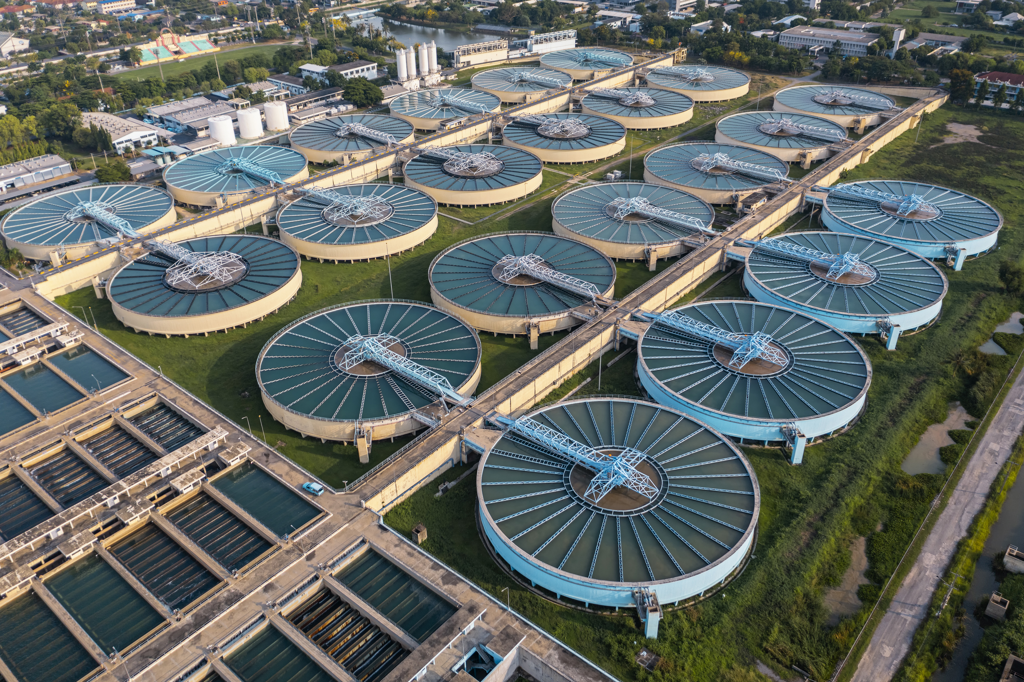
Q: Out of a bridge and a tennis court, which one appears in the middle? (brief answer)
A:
bridge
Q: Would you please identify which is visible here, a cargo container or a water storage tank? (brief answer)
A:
water storage tank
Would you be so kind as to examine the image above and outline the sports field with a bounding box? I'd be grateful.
[114,44,299,85]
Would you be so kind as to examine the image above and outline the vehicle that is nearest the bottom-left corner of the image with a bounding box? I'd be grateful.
[304,481,327,494]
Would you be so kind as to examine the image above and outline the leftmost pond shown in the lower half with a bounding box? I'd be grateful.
[825,537,868,625]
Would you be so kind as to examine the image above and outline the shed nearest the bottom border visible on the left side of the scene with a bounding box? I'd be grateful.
[0,569,31,604]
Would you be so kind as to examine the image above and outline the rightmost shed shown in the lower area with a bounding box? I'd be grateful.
[216,443,253,471]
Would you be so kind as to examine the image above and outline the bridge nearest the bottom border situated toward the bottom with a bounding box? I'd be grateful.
[494,415,614,475]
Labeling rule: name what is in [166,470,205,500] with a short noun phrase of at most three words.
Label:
shed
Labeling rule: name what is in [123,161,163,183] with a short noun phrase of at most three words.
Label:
building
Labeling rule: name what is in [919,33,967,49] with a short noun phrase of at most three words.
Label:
building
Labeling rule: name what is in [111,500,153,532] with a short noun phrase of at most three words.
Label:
shed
